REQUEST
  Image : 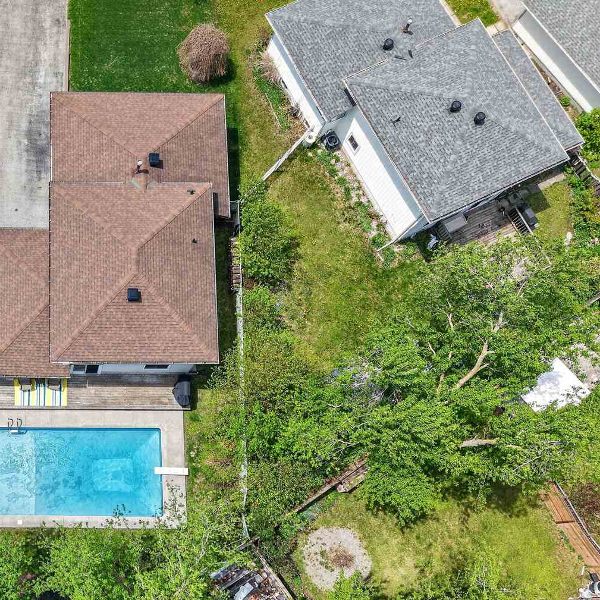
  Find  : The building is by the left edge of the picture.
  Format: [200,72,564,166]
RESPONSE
[0,91,230,377]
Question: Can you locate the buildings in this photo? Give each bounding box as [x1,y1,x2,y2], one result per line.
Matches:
[0,91,230,377]
[262,0,586,251]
